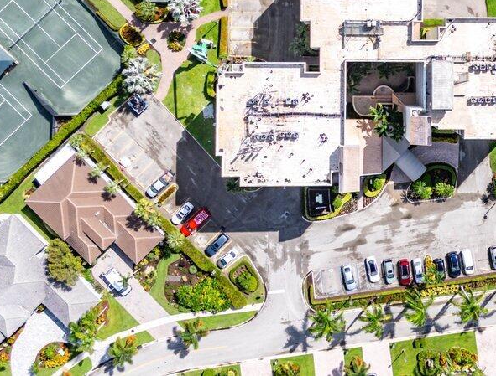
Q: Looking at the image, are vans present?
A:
Yes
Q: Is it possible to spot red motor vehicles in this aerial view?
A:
Yes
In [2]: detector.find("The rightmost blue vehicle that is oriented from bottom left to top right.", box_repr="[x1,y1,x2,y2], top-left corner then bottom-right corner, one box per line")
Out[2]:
[206,233,230,257]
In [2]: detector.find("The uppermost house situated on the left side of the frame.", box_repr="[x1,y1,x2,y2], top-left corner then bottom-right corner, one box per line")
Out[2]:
[25,141,167,266]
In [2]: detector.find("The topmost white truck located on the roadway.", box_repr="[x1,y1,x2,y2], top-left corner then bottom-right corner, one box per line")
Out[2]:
[146,173,174,198]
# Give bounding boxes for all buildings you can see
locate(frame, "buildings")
[25,141,167,266]
[0,212,107,341]
[215,0,496,193]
